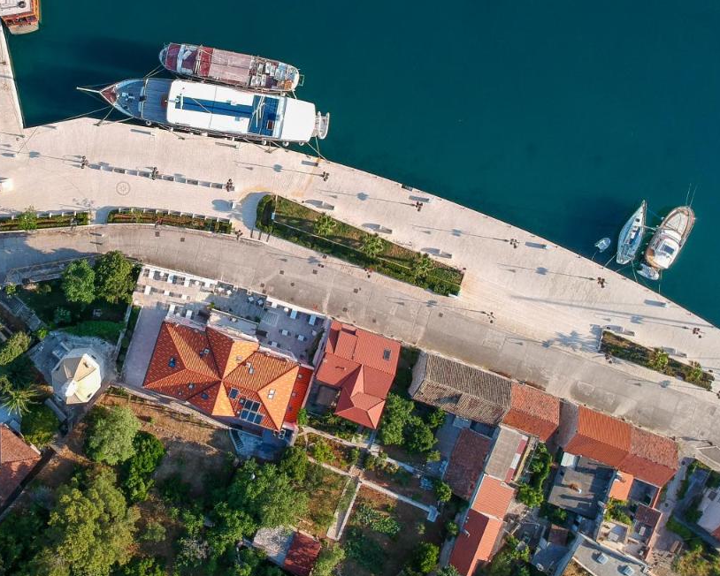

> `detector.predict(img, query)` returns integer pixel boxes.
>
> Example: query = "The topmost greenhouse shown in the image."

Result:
[0,290,46,332]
